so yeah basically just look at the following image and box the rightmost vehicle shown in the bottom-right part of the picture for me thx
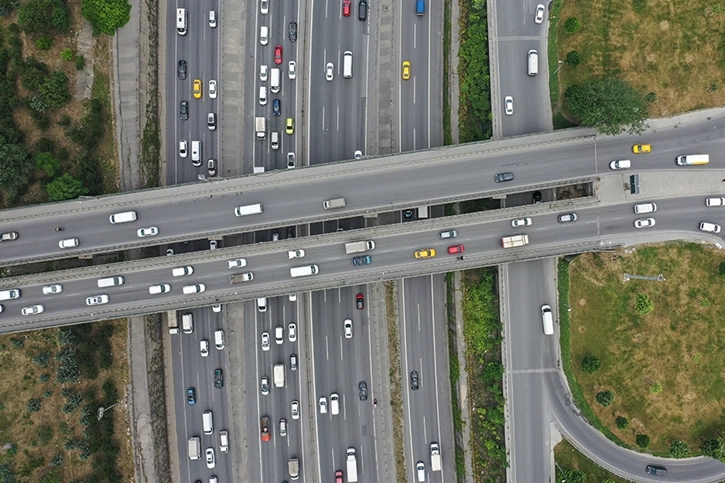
[644,464,668,477]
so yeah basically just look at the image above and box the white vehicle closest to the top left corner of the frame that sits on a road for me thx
[176,8,190,38]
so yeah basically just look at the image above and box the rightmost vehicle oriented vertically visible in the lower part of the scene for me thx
[538,303,555,335]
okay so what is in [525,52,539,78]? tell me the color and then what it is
white vehicle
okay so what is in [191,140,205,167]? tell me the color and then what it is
white vehicle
